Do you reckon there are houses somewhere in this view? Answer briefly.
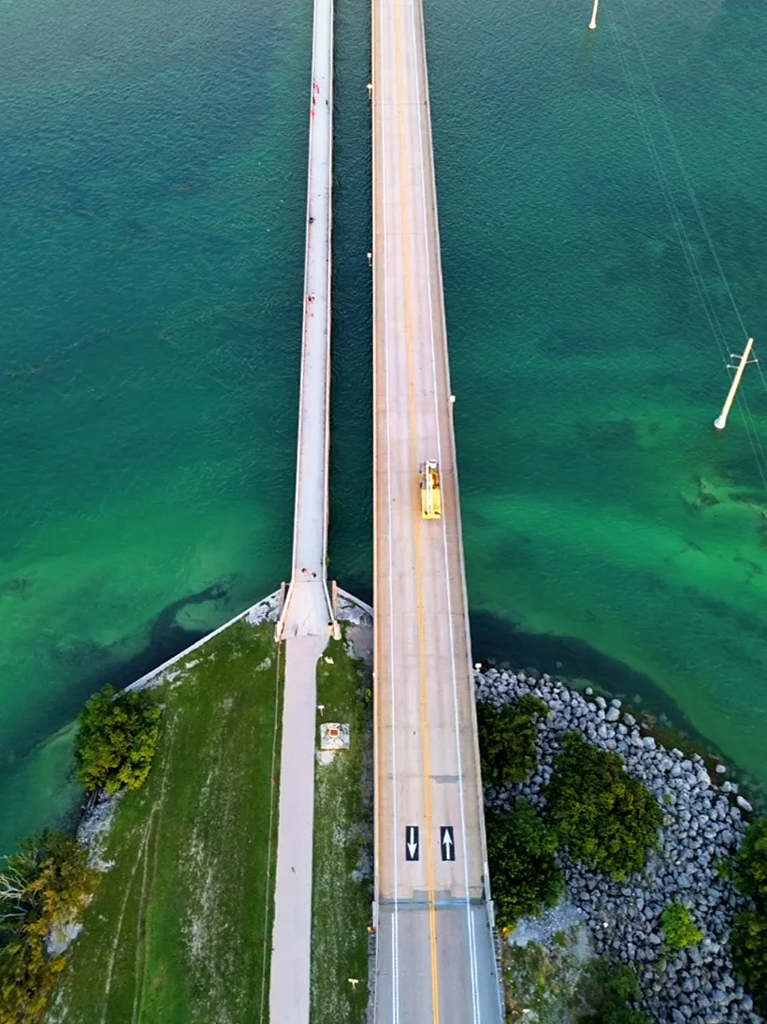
No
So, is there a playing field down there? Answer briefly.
No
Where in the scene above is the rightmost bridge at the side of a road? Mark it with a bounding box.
[371,0,497,932]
